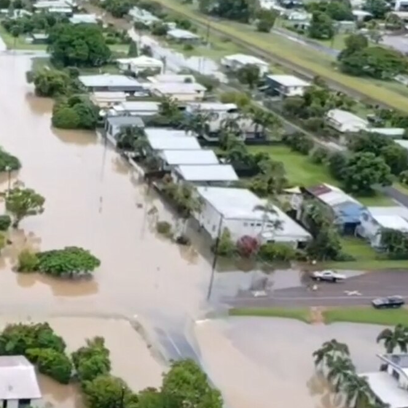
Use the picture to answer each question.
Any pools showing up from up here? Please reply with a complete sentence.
No, no pool is visible in the scene.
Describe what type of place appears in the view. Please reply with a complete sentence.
It's a residential area.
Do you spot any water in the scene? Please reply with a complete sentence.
Yes, there is water in the image.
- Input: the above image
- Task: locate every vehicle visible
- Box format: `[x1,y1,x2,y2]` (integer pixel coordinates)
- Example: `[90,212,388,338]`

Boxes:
[370,294,407,308]
[312,269,345,282]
